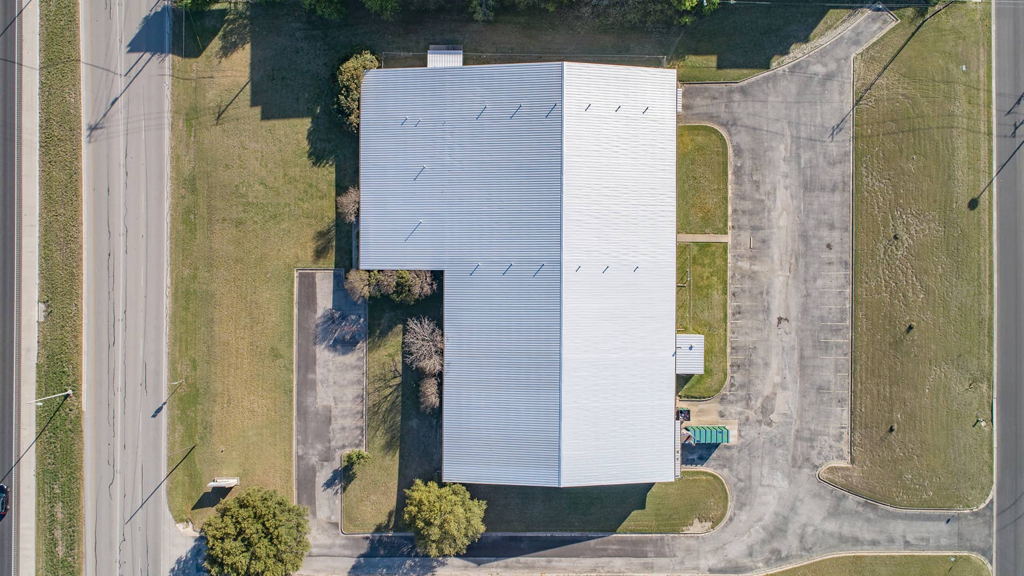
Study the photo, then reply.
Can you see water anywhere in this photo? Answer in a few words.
No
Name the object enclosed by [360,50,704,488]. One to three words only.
building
